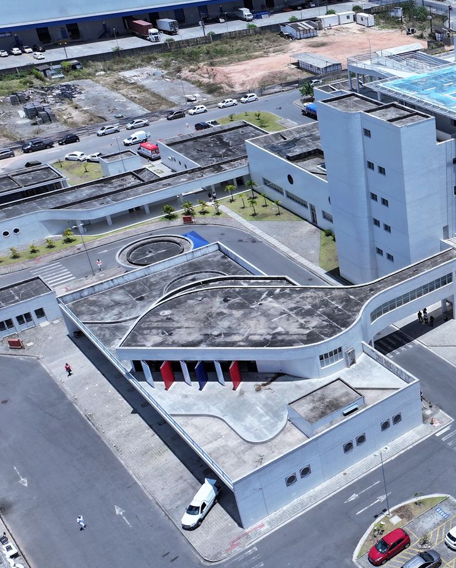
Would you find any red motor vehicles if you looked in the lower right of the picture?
Yes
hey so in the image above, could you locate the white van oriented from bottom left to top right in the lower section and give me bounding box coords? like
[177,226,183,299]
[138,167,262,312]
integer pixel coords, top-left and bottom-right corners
[178,472,229,526]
